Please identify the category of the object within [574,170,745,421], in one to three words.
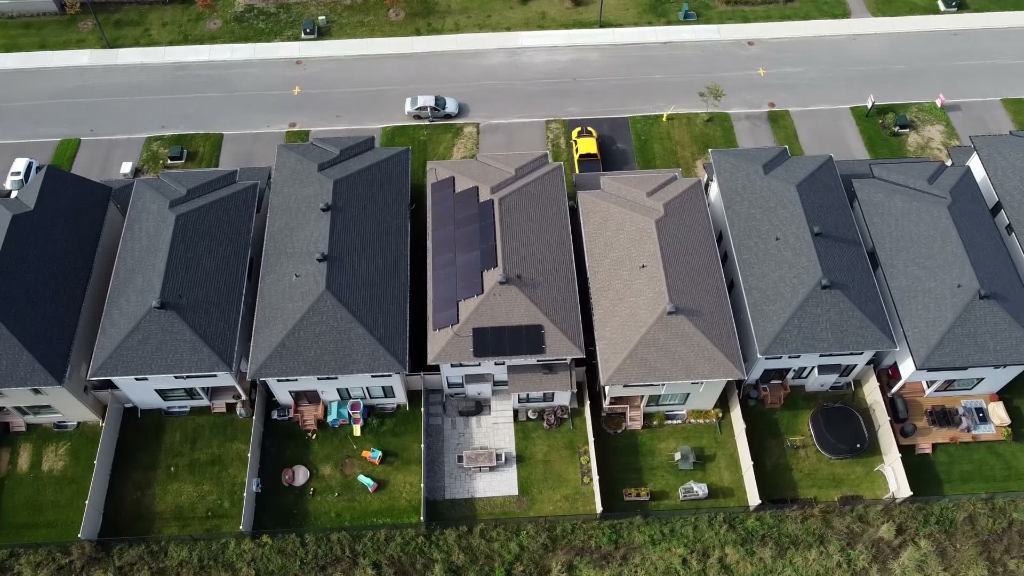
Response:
house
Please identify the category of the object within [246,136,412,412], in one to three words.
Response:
house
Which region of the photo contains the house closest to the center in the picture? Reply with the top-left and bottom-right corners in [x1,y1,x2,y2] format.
[426,151,585,411]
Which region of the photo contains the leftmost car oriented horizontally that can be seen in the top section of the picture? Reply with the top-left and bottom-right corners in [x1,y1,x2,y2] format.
[405,95,458,121]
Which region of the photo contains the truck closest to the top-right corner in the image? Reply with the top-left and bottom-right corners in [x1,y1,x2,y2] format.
[571,127,603,174]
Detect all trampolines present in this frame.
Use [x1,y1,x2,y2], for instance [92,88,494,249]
[805,405,872,462]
